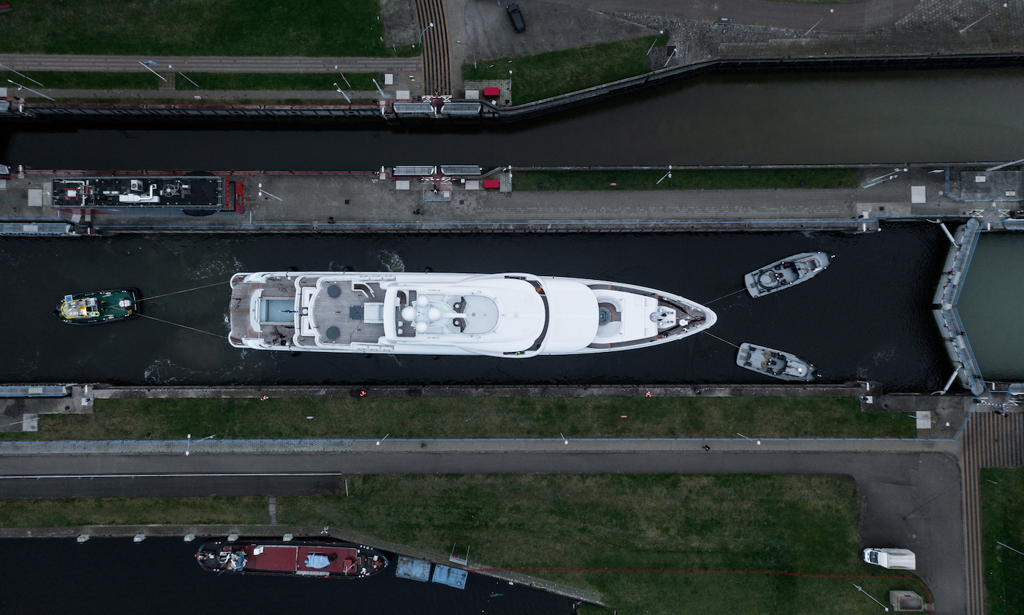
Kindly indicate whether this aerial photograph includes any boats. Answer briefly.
Yes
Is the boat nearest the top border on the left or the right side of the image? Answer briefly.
right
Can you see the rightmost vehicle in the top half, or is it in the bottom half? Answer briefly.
bottom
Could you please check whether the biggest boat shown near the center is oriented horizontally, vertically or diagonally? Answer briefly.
horizontally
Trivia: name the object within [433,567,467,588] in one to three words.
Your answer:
pier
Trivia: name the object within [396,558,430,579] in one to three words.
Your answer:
pier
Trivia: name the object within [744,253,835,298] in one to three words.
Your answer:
boat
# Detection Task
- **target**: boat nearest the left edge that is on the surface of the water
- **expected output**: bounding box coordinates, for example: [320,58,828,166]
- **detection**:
[53,287,147,324]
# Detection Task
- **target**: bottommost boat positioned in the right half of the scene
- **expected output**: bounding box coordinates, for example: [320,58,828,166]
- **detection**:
[736,342,820,382]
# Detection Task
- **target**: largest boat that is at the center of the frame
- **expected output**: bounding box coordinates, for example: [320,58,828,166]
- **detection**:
[229,271,718,358]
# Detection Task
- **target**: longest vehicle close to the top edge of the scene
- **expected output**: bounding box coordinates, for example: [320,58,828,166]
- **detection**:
[507,3,524,33]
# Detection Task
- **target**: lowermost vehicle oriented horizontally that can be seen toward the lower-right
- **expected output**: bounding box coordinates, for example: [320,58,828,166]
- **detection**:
[863,548,915,570]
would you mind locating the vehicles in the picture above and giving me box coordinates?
[507,3,524,33]
[863,548,915,570]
